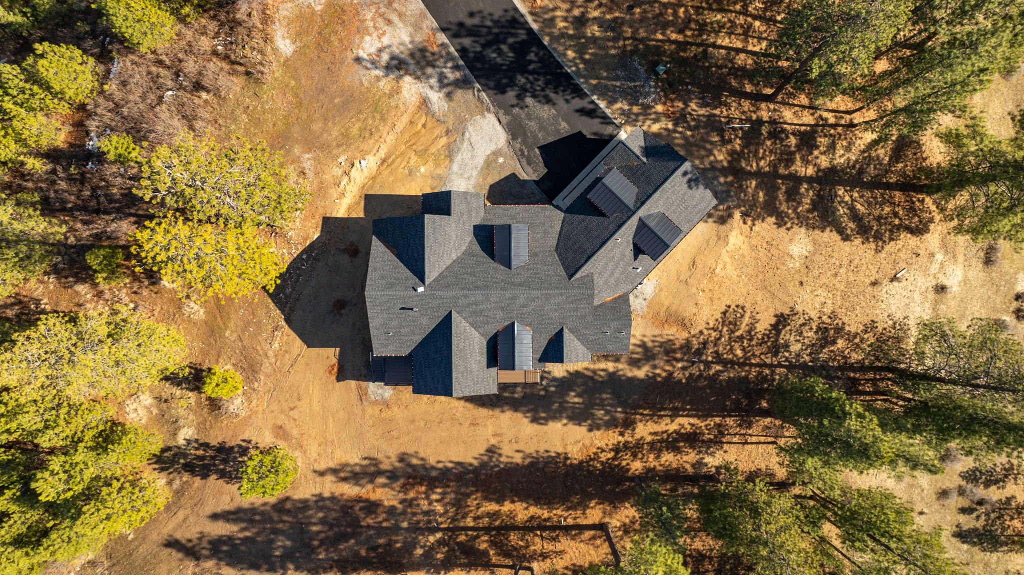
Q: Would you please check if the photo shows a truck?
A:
No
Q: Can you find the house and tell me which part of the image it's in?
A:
center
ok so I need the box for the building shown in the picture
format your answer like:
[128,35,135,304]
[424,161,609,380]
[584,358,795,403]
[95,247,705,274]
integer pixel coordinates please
[365,124,718,397]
